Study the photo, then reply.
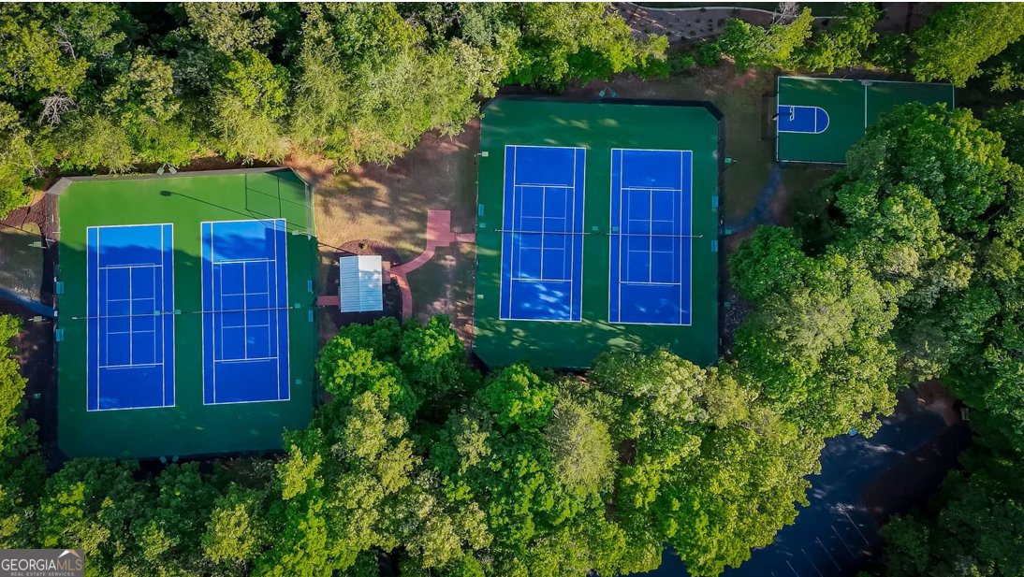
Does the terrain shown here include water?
No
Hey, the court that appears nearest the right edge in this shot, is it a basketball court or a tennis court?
basketball court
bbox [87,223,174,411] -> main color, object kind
blue tennis court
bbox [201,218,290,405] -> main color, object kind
blue tennis court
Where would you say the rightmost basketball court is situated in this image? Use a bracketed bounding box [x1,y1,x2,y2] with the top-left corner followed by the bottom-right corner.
[777,76,955,164]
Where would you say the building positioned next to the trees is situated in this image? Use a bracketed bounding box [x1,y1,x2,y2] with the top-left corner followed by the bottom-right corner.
[340,255,385,312]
